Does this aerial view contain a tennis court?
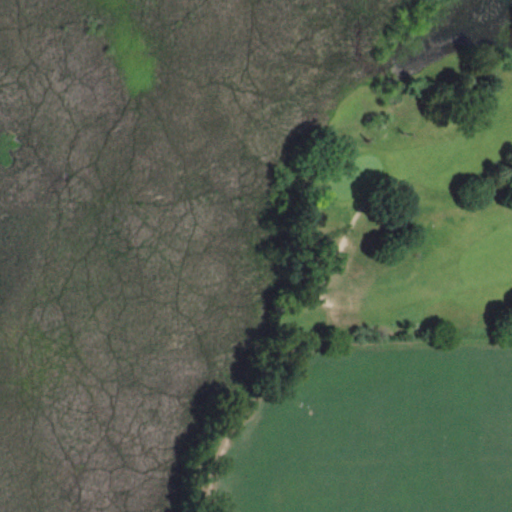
No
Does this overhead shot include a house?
No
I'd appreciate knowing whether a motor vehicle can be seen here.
No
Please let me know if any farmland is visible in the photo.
Yes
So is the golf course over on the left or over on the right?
right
